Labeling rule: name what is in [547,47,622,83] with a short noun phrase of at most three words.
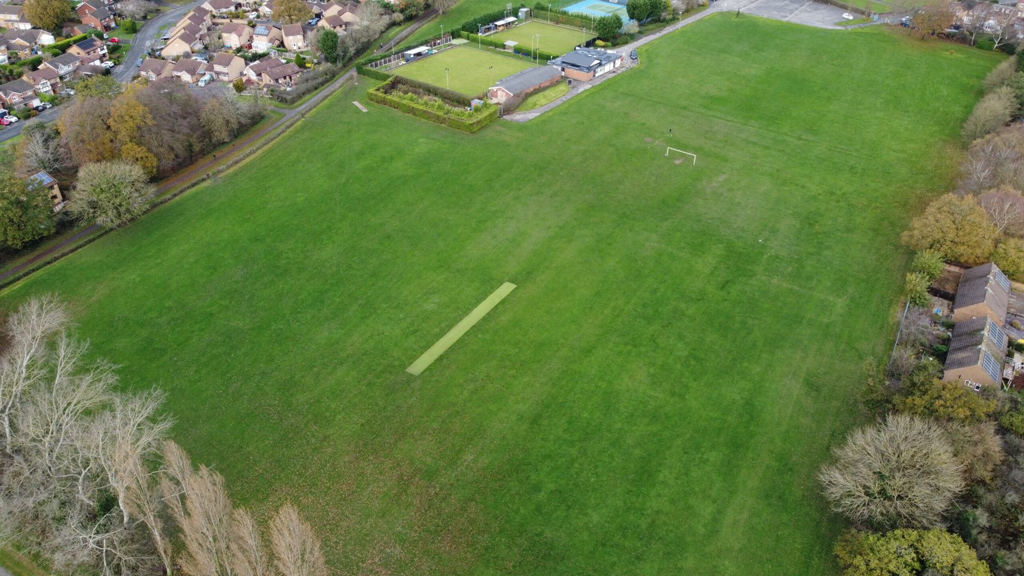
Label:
building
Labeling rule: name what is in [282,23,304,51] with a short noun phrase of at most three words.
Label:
house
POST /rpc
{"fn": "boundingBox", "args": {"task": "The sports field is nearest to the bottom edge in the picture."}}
[406,282,517,376]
